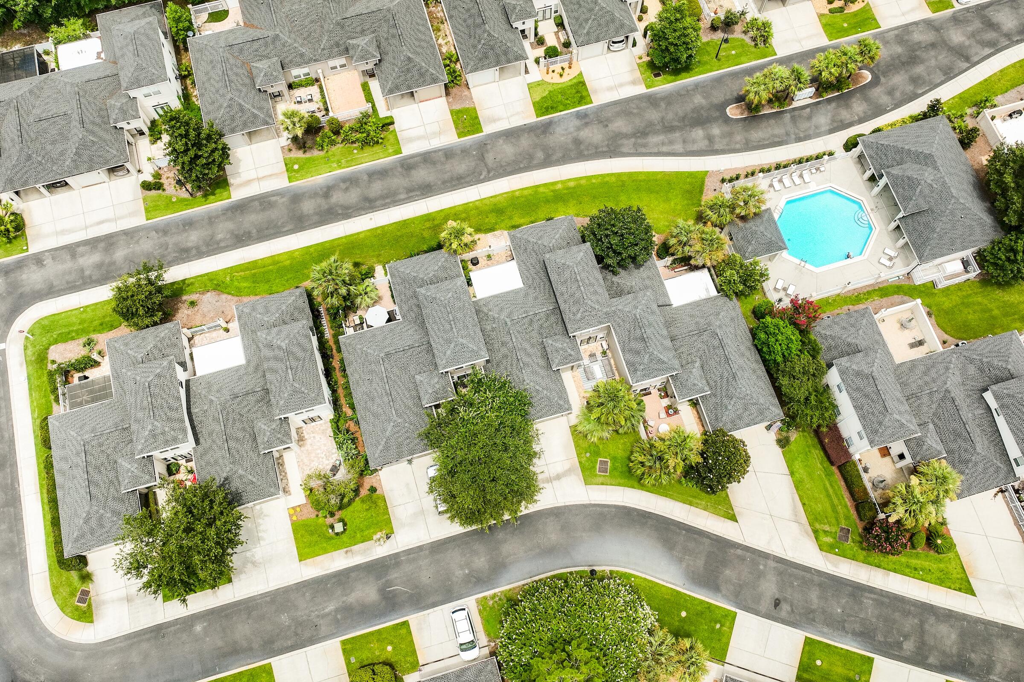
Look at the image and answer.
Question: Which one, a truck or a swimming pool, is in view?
swimming pool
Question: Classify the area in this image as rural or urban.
urban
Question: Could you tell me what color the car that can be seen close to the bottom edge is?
white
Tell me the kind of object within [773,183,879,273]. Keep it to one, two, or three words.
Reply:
swimming pool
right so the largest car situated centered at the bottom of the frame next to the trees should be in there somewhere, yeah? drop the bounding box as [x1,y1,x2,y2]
[449,603,483,666]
